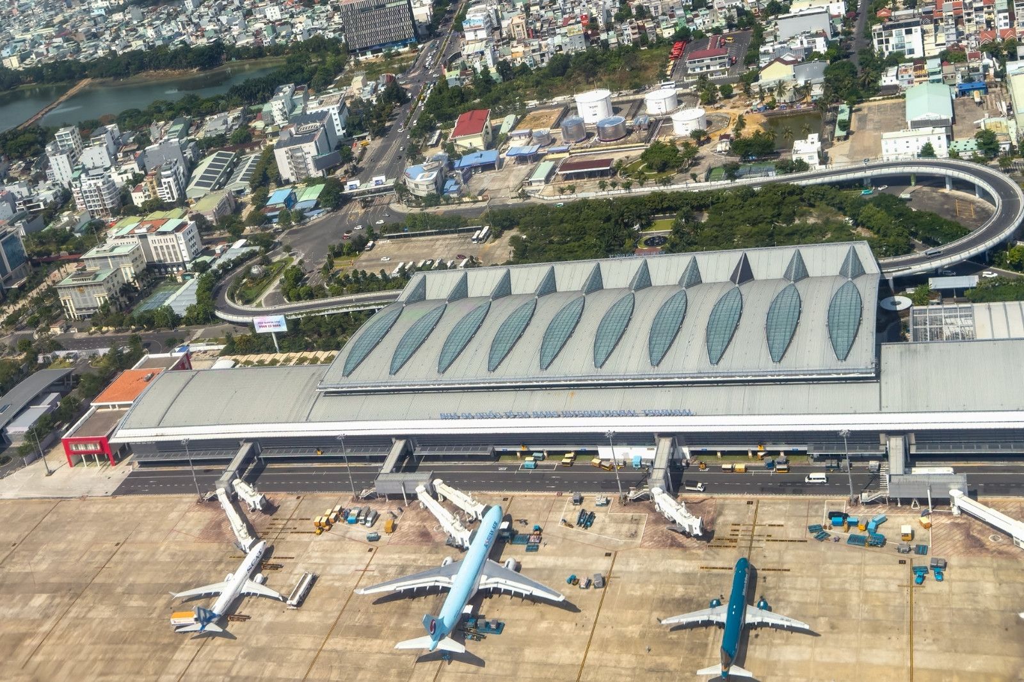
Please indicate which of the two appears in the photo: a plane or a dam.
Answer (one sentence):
There is a plane in the scene.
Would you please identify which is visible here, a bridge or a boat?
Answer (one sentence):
Of the two, only a bridge appears.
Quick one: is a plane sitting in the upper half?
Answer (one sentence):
No, in the upper half there is no plane.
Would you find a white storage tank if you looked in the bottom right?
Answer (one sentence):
No, I see no white storage tank in the bottom right.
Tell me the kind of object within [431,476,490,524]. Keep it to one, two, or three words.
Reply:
jet bridge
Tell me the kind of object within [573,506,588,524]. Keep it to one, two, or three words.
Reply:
work vehicle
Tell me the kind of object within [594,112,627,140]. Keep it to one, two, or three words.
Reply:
storage tank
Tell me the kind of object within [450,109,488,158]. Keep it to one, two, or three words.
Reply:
building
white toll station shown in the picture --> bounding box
[332,179,399,206]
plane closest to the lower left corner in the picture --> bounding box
[168,543,286,629]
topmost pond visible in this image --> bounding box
[755,112,832,148]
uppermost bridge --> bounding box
[512,157,1024,284]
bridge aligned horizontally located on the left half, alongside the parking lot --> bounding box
[211,267,395,324]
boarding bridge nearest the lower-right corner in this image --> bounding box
[947,486,1024,553]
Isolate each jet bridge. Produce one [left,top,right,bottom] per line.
[947,486,1024,553]
[431,476,490,524]
[413,483,474,550]
[648,487,710,543]
[214,489,258,551]
[235,477,273,519]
